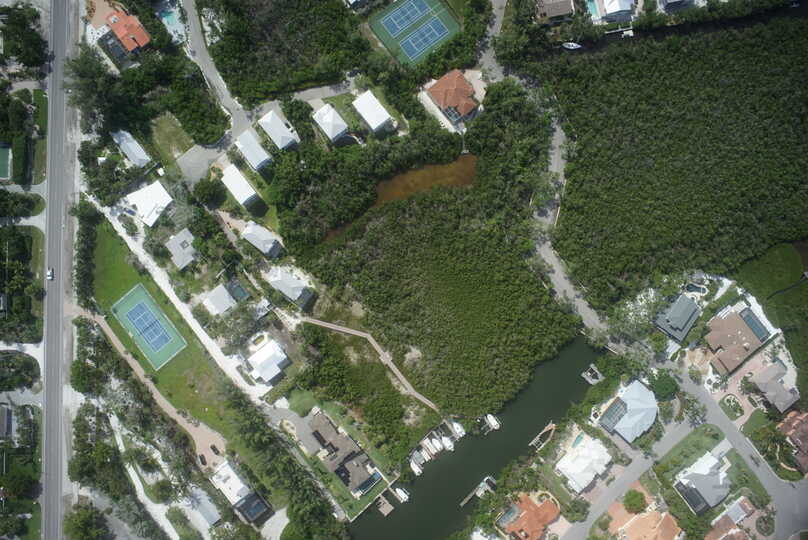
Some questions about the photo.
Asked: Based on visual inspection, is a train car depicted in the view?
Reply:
No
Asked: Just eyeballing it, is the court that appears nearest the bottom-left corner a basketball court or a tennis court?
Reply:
tennis court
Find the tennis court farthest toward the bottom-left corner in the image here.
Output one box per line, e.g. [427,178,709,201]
[111,282,188,373]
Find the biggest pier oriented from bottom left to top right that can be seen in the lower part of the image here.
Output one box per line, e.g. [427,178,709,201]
[410,419,459,471]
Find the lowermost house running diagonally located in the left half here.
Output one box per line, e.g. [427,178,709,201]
[189,485,221,526]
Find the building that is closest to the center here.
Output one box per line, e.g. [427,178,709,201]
[261,264,307,302]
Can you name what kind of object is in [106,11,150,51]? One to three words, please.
house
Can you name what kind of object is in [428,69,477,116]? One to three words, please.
house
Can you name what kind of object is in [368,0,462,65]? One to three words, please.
tennis court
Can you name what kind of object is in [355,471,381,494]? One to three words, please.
swimming pool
